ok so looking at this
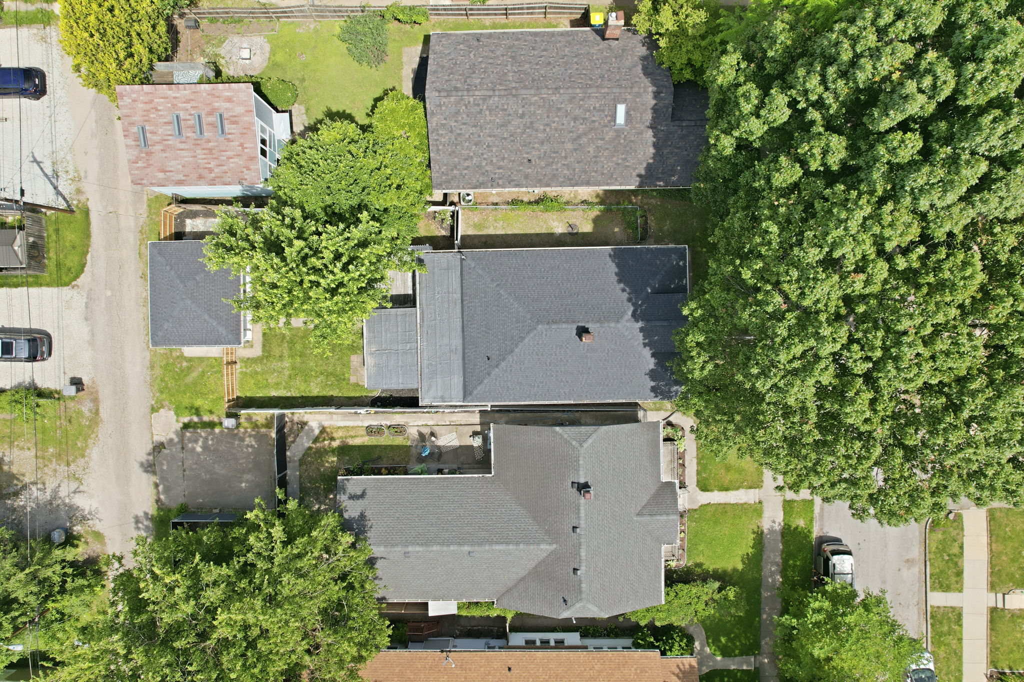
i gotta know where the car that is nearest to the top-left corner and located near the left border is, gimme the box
[0,66,49,102]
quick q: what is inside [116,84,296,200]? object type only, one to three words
building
